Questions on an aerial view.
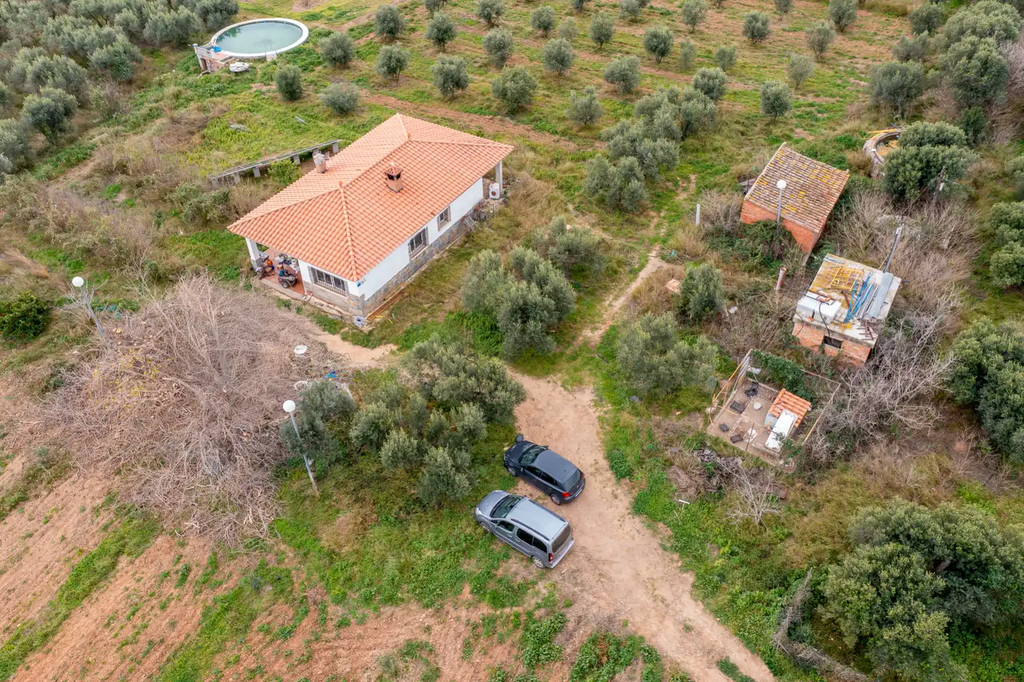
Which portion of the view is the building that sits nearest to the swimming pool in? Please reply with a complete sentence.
The building that sits nearest to the swimming pool sits in the top left section of the image.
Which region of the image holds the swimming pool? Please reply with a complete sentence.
The swimming pool is in the top left part of the image.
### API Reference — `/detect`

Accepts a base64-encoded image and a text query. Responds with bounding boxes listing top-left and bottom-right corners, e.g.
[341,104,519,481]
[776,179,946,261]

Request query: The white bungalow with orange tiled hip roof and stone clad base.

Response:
[227,112,514,319]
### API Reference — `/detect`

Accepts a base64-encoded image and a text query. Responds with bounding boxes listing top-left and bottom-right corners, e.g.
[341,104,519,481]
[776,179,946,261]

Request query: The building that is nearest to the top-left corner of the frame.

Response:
[179,33,236,69]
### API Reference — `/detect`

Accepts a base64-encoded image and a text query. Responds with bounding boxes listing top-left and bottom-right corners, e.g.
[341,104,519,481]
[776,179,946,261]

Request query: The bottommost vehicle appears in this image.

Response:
[473,487,576,570]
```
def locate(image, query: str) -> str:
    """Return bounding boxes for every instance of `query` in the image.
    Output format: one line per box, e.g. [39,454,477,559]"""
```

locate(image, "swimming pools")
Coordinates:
[214,18,308,64]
